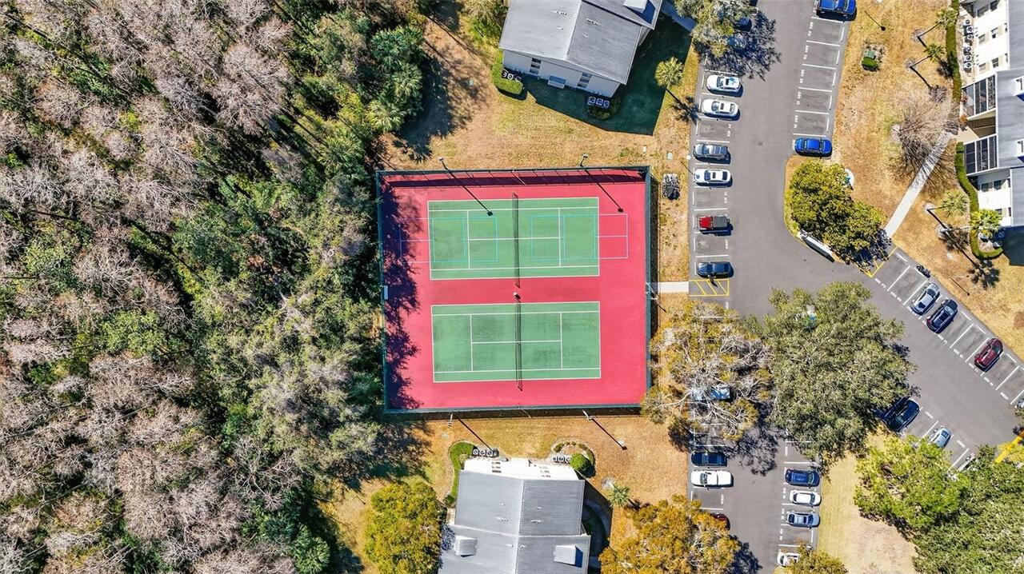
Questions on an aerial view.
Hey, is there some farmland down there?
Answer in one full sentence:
No, there is no farmland in the image.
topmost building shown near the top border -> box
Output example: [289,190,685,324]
[498,0,657,96]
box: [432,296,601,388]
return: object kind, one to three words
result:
tennis court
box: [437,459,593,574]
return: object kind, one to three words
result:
building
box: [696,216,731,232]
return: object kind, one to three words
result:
vehicle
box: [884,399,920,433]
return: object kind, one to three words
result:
car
